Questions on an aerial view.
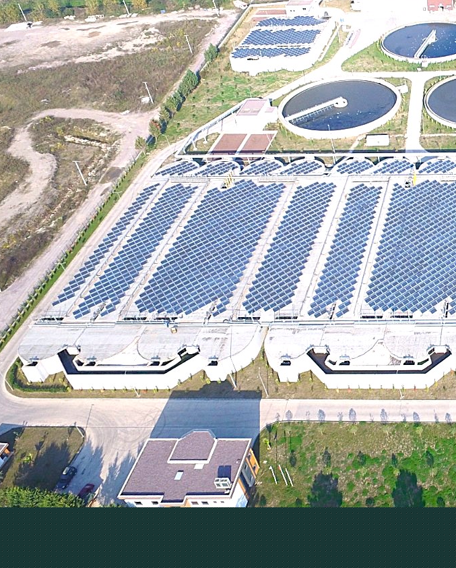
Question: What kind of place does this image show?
industrial area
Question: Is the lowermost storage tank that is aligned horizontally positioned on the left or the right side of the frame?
right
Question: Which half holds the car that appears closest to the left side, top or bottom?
bottom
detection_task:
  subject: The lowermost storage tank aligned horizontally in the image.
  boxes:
[279,78,402,139]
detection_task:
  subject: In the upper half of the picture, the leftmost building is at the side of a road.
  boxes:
[234,100,281,130]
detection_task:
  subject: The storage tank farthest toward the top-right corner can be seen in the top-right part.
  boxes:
[380,22,456,64]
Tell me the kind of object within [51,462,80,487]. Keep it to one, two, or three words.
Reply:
car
